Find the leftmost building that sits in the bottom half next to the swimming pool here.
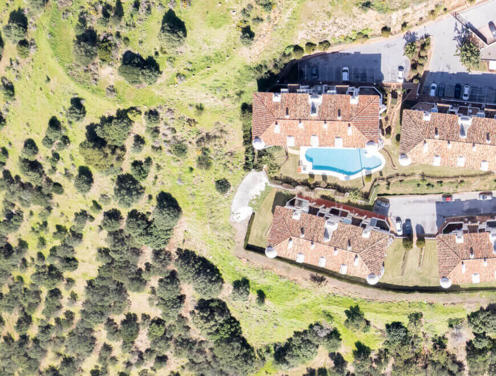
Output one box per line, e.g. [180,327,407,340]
[264,196,399,283]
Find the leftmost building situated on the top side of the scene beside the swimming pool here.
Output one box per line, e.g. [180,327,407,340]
[251,82,393,156]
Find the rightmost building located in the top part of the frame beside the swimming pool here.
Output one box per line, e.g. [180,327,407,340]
[397,101,496,170]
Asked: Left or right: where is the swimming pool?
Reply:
right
